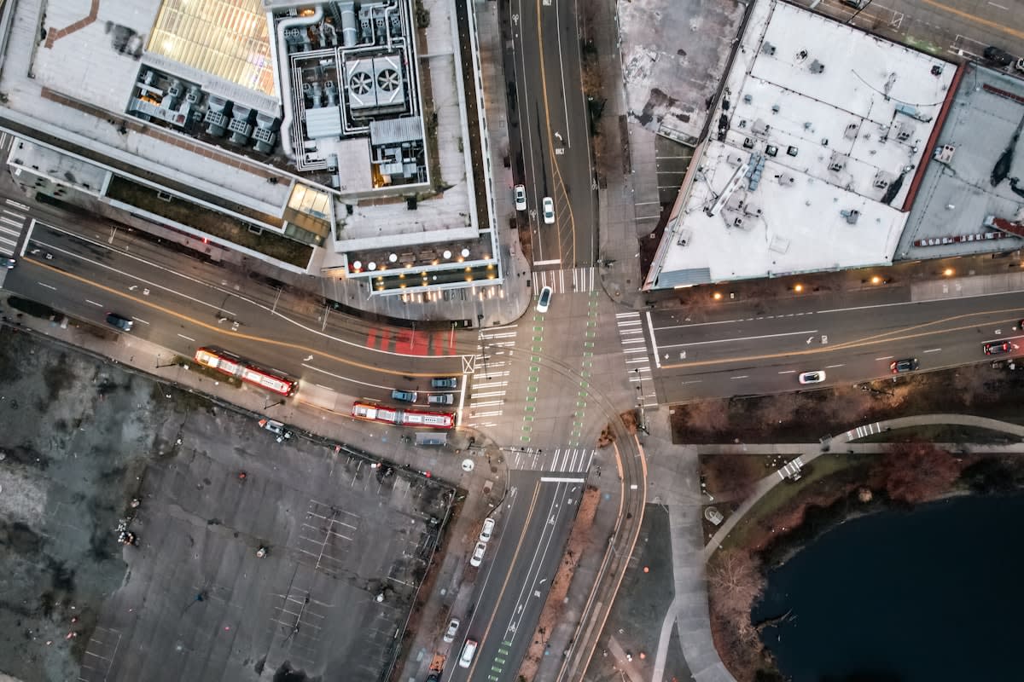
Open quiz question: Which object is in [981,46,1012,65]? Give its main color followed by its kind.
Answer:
black car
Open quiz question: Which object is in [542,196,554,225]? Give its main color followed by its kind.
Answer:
white vehicle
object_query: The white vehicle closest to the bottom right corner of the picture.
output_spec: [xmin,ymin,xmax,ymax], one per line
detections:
[798,370,826,383]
